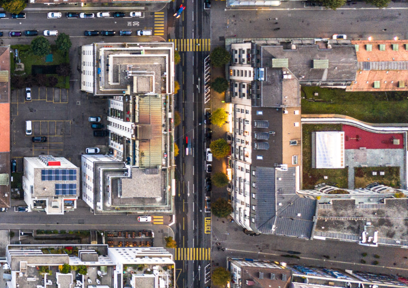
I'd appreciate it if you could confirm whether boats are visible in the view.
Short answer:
No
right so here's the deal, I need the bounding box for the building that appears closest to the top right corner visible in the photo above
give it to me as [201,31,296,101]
[322,41,408,91]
